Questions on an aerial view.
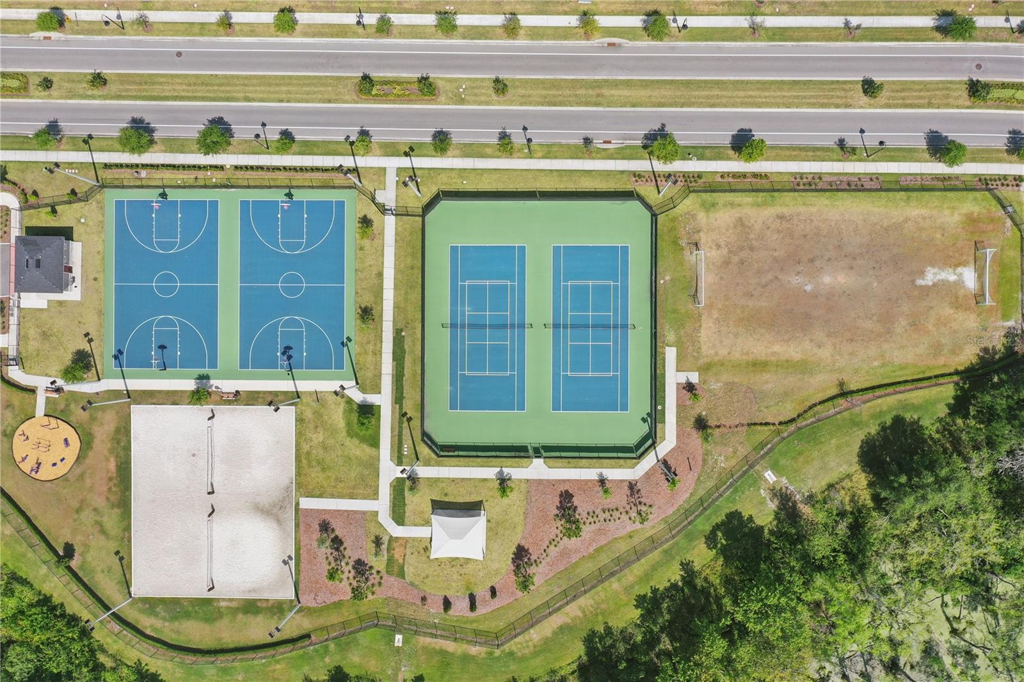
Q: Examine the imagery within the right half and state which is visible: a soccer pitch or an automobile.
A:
soccer pitch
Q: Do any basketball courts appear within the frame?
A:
Yes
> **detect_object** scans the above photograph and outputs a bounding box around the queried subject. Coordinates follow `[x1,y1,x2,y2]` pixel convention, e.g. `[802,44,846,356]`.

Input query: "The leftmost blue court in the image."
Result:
[104,188,229,380]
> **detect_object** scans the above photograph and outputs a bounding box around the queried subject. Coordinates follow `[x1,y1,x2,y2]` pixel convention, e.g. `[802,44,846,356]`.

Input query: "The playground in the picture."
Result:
[12,415,81,482]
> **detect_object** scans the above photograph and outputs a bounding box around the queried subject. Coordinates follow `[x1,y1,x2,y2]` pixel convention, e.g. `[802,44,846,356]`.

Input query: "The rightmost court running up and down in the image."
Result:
[539,201,652,455]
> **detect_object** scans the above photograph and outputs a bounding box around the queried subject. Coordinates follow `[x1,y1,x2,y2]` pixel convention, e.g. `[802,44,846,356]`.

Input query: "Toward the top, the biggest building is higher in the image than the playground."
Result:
[15,236,71,293]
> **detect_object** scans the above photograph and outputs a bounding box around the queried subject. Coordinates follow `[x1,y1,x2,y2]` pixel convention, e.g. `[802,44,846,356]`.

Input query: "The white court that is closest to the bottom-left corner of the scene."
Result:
[130,405,295,600]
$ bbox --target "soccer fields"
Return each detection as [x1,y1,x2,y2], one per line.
[686,207,1009,374]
